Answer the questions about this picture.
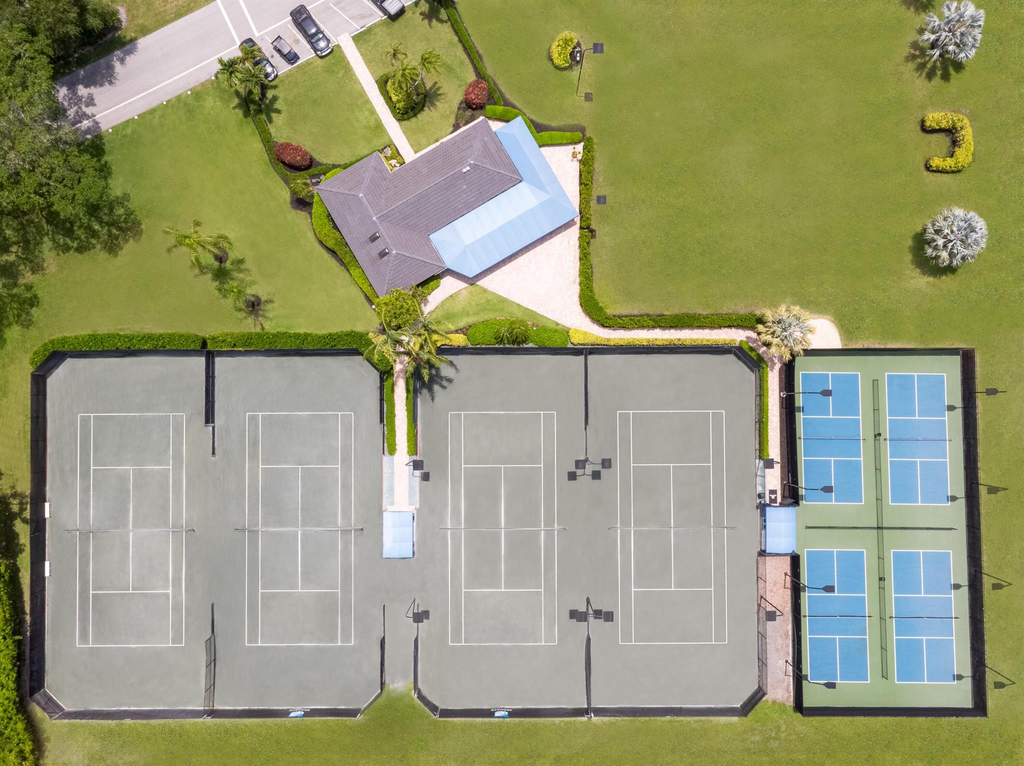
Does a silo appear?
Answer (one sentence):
No, I find no silo anywhere in the image.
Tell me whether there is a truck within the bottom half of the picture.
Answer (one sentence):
No, there's no truck to be seen within the bottom half of the picture.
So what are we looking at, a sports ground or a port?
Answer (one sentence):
This image shows a sports ground.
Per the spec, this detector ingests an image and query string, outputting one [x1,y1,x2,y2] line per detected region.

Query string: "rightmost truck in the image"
[375,0,405,21]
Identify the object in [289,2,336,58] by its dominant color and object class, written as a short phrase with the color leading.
gray truck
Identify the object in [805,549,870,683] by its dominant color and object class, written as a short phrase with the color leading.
blue sports court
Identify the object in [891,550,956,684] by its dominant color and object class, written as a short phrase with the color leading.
blue sports court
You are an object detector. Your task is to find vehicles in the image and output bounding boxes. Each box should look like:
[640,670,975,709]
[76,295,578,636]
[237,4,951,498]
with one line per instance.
[289,2,336,58]
[239,36,280,82]
[375,0,405,21]
[272,36,301,67]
